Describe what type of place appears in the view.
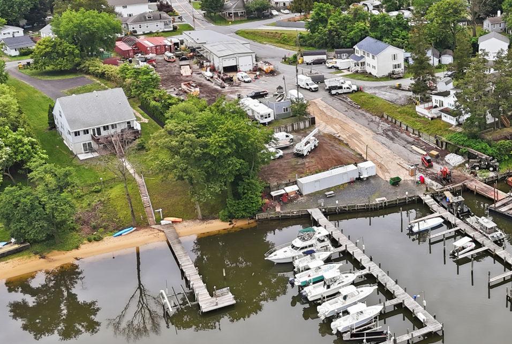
port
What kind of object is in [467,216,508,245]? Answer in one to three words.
boat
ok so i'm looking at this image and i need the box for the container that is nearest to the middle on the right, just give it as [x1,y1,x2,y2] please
[296,161,358,196]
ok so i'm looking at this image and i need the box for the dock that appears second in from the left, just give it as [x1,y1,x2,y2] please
[312,204,446,344]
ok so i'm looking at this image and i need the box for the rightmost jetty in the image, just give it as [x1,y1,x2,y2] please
[406,191,512,301]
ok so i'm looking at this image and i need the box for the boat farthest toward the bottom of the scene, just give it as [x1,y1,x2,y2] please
[343,328,397,344]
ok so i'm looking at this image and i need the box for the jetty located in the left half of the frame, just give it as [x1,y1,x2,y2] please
[157,222,237,317]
